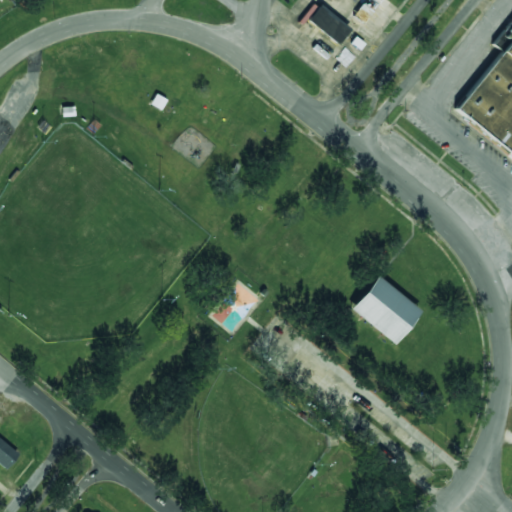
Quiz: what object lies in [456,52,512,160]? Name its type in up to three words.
building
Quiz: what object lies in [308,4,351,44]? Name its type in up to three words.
building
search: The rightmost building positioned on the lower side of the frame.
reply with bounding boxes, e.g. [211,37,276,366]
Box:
[352,277,422,346]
